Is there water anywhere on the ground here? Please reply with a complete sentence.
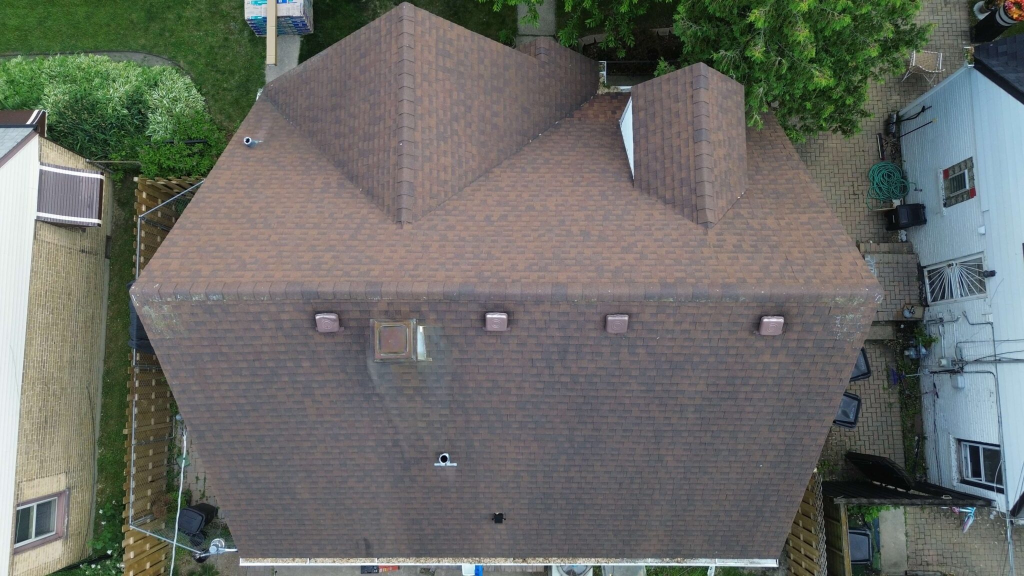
No, there's no water in this view.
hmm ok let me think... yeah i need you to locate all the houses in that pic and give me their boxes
[129,0,884,567]
[900,29,1024,530]
[0,108,121,576]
